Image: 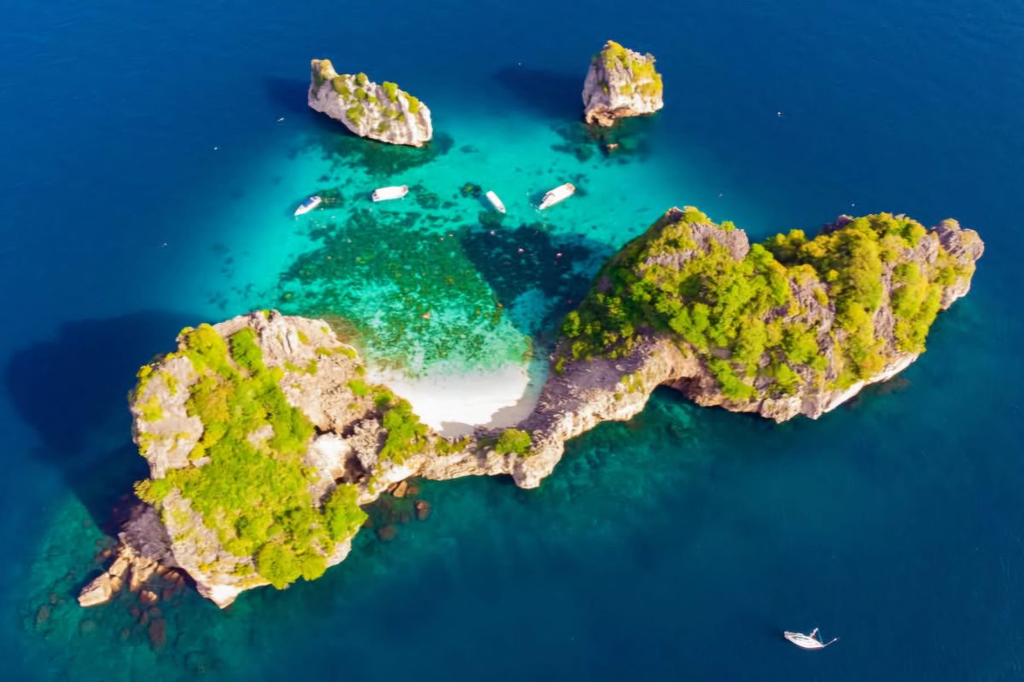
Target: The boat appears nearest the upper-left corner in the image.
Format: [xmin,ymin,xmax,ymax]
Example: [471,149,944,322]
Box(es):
[295,196,325,215]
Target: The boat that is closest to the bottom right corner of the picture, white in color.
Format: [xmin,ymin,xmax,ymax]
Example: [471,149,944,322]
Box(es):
[782,630,836,648]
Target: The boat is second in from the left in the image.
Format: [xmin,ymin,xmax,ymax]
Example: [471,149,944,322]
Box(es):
[371,184,408,202]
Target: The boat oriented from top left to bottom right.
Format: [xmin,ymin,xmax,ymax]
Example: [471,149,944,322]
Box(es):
[485,188,505,213]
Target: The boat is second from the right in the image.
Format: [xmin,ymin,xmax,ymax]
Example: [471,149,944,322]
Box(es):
[534,183,574,212]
